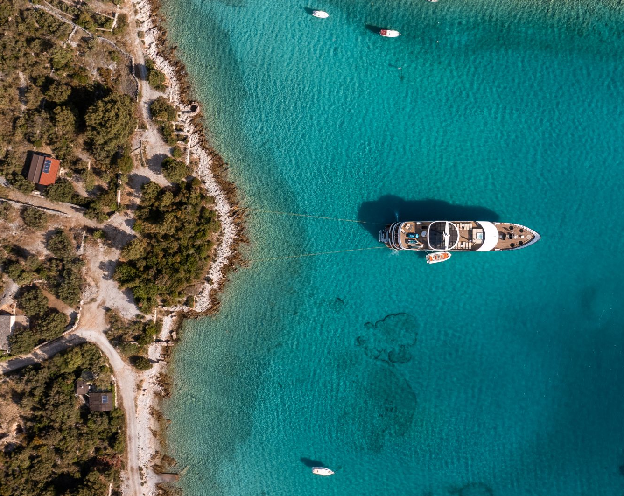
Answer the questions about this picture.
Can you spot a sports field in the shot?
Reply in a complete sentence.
No, I find no sports field anywhere in the image.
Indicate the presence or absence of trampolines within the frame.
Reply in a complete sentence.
No, there is no trampoline in the image.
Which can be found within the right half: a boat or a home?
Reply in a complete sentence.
The one visible within the right half is a boat.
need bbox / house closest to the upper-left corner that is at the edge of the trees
[28,154,63,186]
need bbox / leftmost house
[0,315,15,350]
